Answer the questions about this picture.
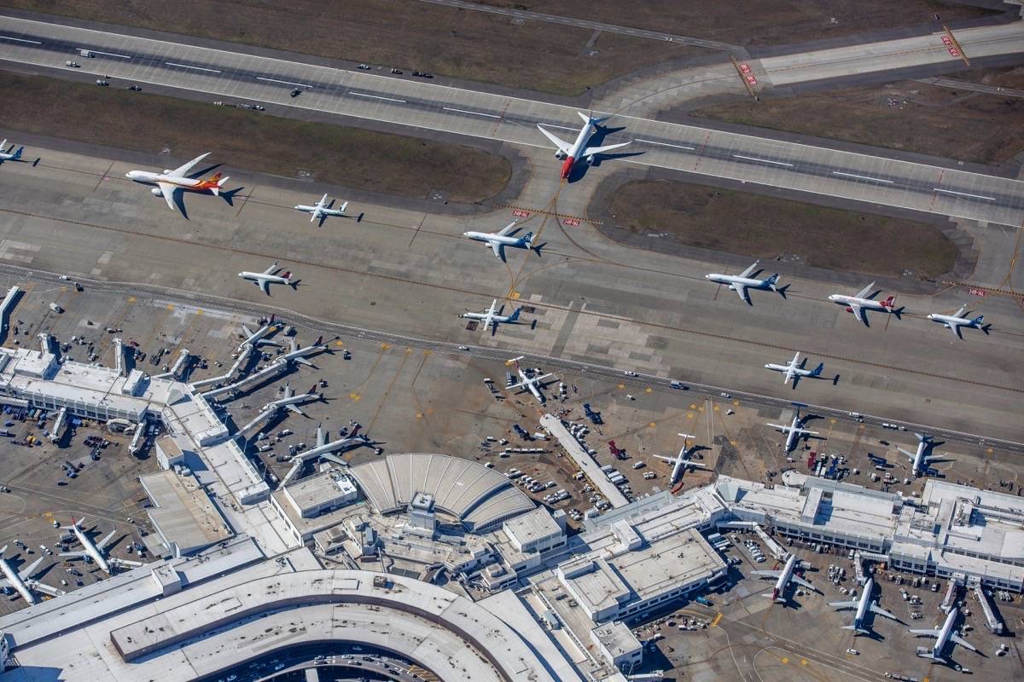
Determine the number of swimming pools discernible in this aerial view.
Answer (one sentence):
I count no swimming pools.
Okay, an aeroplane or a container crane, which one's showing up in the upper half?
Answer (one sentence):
You can see an aeroplane in the upper half.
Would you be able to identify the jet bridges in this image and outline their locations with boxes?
[201,360,288,400]
[153,350,190,382]
[188,345,253,391]
[274,462,304,492]
[128,424,145,460]
[25,578,66,597]
[107,556,145,572]
[637,670,668,682]
[973,587,1004,638]
[49,408,67,444]
[230,408,278,444]
[39,332,50,353]
[937,578,956,614]
[716,522,794,566]
[114,338,125,372]
[854,550,887,588]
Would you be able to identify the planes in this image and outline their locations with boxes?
[234,307,287,353]
[535,101,630,177]
[123,150,231,208]
[508,360,557,405]
[892,430,948,478]
[828,281,895,320]
[0,138,23,159]
[908,607,978,661]
[826,578,898,632]
[272,329,333,371]
[749,554,816,602]
[262,375,324,419]
[292,194,346,223]
[761,352,820,384]
[0,549,44,604]
[707,261,778,300]
[287,419,372,468]
[54,513,119,572]
[460,301,517,332]
[238,259,292,292]
[465,219,534,257]
[651,436,704,485]
[927,305,983,338]
[765,407,818,455]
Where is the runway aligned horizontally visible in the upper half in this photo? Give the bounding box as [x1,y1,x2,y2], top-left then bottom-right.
[0,15,1024,226]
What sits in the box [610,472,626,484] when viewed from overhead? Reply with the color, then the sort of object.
white vehicle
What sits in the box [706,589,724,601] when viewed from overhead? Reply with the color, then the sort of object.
gray vehicle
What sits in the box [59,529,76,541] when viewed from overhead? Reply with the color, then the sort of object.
gray vehicle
